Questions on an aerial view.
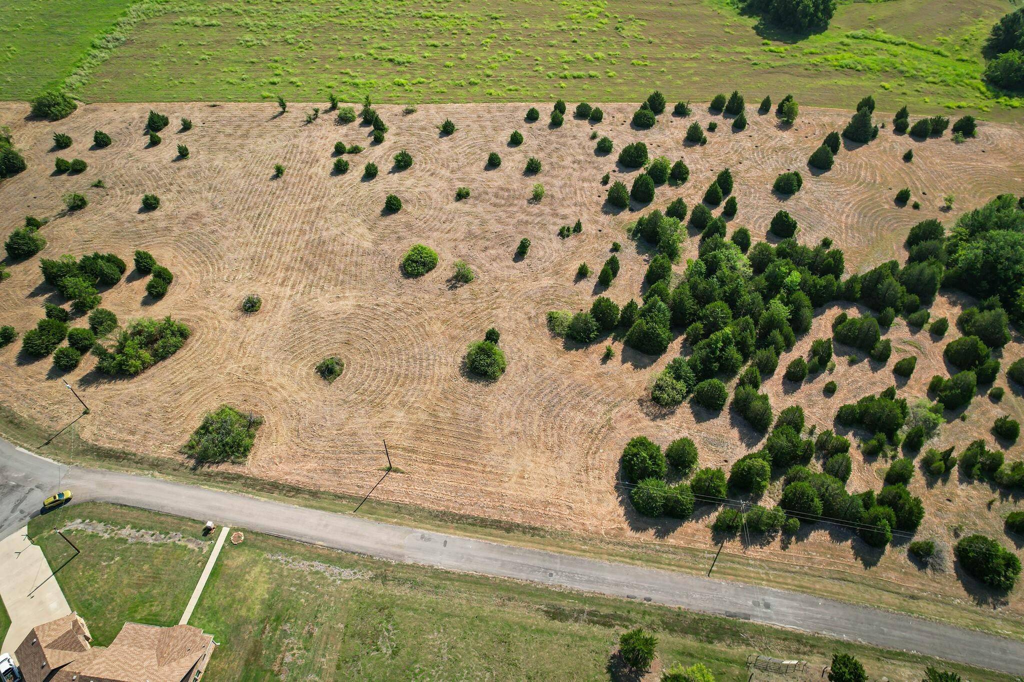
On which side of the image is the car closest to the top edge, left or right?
left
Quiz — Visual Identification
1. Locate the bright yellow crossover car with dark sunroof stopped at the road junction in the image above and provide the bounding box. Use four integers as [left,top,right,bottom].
[42,491,73,511]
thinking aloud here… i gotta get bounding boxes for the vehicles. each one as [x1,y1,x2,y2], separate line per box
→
[42,491,73,511]
[0,655,23,682]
